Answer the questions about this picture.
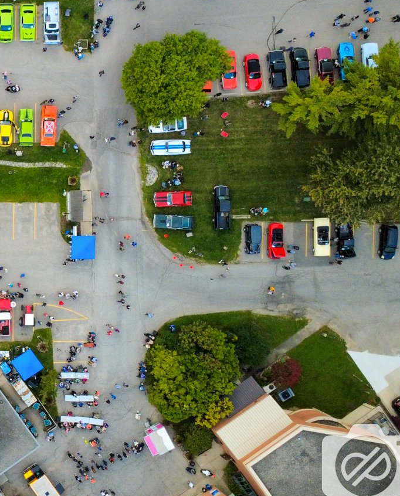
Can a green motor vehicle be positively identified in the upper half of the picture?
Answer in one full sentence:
Yes, looking in the upper half of the picture, one can make out a green motor vehicle.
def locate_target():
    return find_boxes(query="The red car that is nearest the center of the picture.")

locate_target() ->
[152,190,192,208]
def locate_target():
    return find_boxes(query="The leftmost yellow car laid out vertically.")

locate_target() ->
[0,108,19,148]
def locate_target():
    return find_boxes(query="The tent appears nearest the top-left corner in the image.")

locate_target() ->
[69,236,95,259]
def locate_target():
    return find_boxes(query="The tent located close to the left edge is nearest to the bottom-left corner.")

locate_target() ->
[8,344,45,383]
